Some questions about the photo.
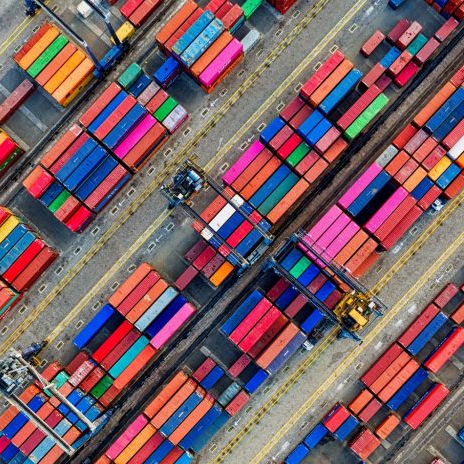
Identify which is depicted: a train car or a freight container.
freight container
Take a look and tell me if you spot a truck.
Yes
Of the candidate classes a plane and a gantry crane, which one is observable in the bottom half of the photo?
gantry crane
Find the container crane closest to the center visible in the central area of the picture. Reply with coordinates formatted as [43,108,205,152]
[164,157,280,275]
